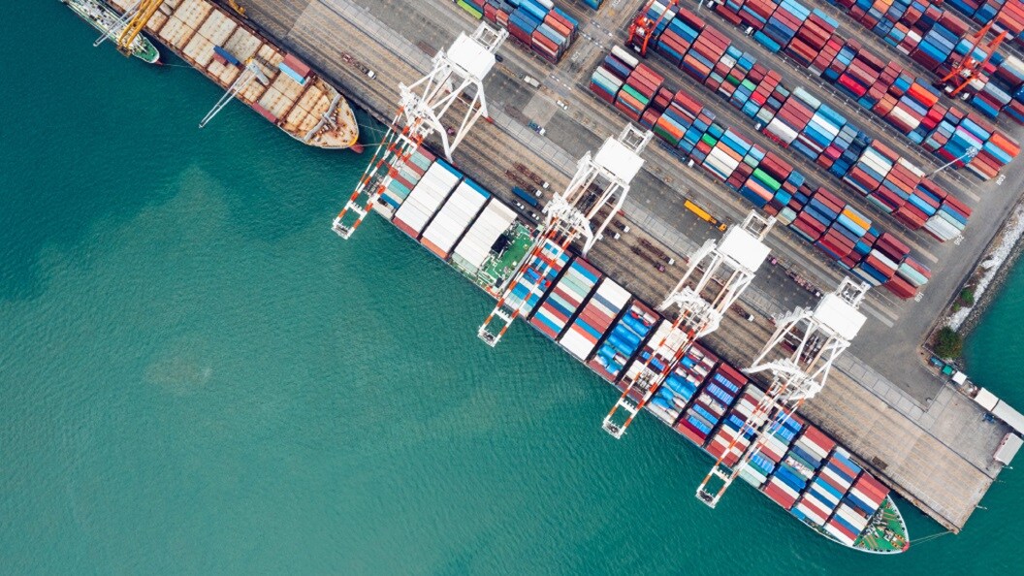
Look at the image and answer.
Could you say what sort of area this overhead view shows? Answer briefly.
port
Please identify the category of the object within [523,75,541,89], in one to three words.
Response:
vehicle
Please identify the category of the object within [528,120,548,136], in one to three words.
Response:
vehicle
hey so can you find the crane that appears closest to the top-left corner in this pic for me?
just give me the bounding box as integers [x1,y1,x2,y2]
[113,0,176,57]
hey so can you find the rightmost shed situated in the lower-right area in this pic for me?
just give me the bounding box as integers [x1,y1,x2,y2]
[990,432,1024,466]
